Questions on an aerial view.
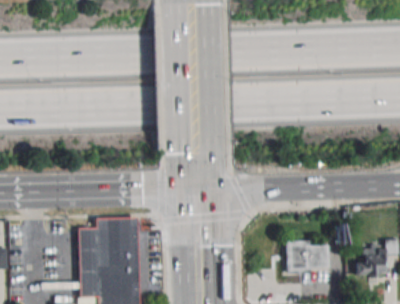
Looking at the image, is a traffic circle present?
No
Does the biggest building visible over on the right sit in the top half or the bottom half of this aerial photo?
bottom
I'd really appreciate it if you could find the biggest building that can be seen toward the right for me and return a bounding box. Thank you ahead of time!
[285,240,330,273]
